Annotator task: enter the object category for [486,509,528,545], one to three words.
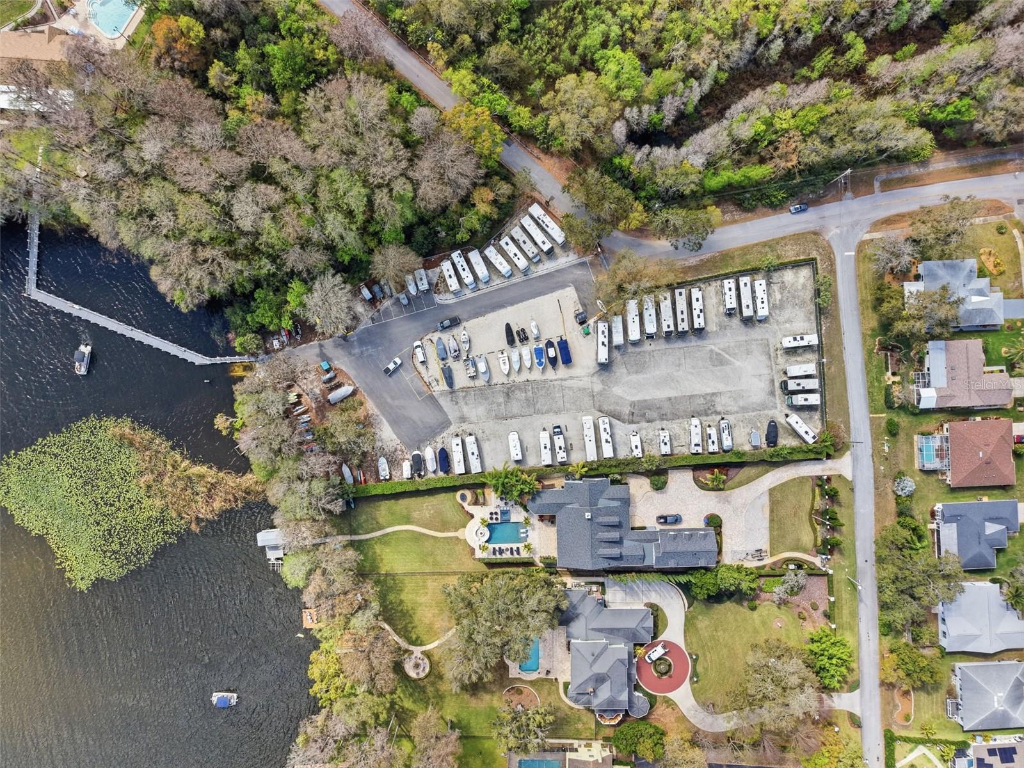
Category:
swimming pool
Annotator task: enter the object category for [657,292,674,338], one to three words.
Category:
camper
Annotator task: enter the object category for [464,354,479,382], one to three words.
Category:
boat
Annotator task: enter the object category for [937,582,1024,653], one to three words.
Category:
house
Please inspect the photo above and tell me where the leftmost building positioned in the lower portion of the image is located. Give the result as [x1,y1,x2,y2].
[255,527,289,573]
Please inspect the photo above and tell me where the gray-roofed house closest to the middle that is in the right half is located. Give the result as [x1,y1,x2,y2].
[527,479,720,571]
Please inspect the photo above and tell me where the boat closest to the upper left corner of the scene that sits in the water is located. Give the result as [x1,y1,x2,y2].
[73,342,93,375]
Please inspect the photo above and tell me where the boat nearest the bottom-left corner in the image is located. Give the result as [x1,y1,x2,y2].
[212,691,241,708]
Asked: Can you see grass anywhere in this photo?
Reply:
Yes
